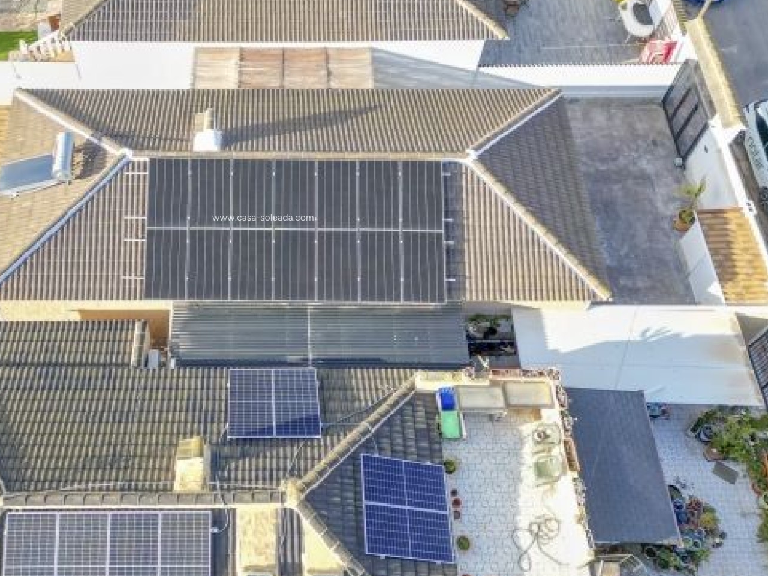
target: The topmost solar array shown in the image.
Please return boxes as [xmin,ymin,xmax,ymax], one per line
[121,161,453,303]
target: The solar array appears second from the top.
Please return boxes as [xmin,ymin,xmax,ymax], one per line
[228,369,320,436]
